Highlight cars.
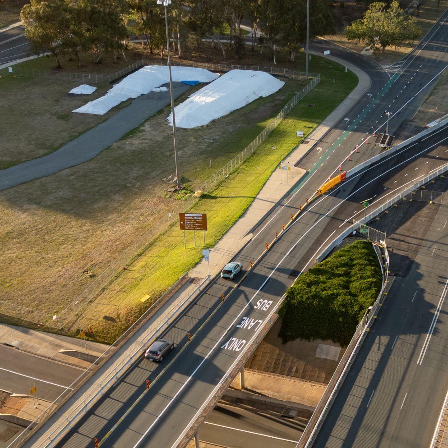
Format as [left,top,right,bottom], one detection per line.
[143,337,176,363]
[222,262,245,279]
